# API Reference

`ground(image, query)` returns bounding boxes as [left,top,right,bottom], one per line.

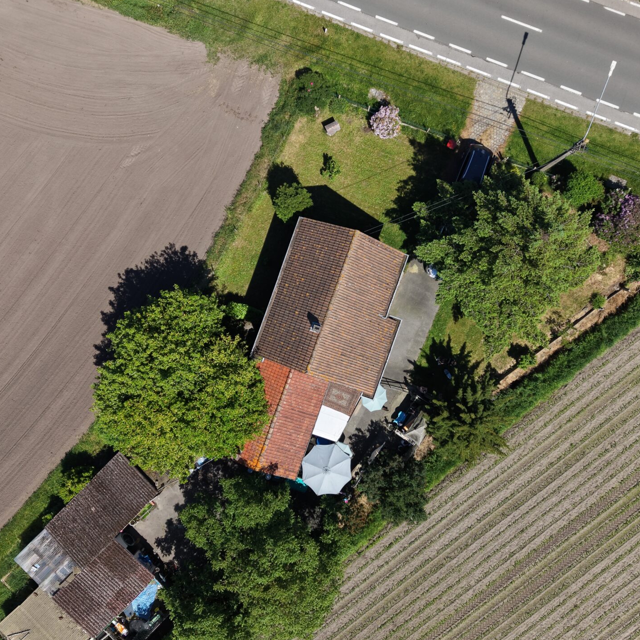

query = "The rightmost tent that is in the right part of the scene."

[401,408,427,446]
